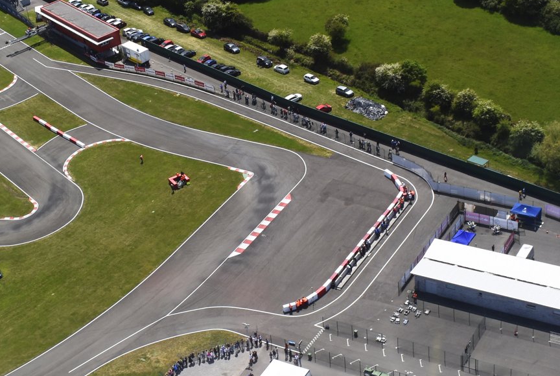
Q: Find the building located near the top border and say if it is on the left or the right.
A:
left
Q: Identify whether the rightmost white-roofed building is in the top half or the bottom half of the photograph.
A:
bottom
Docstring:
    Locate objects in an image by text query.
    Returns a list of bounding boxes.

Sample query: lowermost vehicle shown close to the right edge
[513,235,538,260]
